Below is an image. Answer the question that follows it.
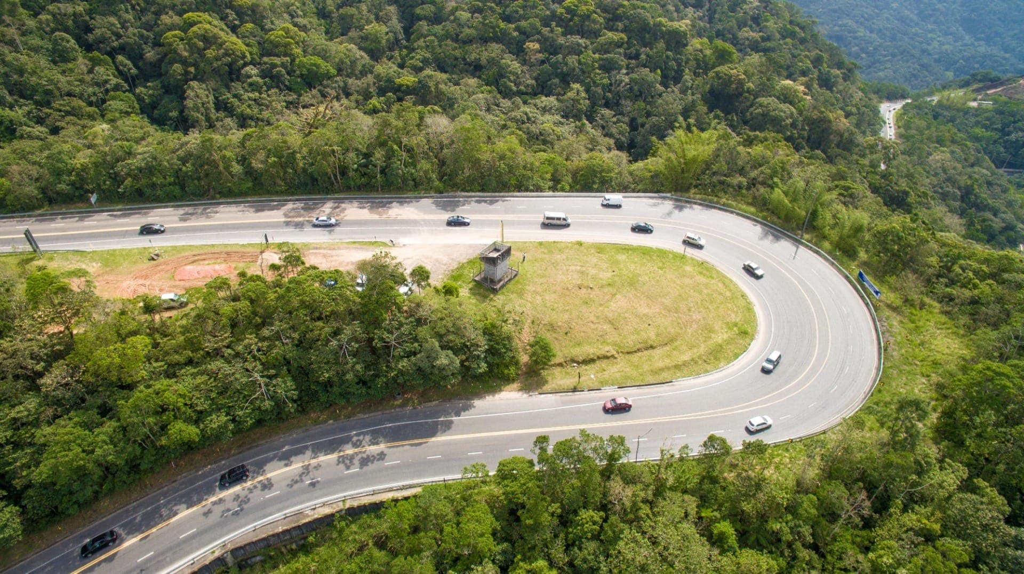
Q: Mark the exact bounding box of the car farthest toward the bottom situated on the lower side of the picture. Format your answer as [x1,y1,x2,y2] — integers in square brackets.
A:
[79,531,117,558]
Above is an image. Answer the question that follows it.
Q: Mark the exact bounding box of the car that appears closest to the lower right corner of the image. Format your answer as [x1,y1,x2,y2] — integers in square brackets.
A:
[746,416,774,432]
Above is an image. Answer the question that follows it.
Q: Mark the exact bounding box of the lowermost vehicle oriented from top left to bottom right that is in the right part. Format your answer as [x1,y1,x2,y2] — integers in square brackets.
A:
[743,261,764,277]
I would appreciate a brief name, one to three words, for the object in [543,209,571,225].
vehicle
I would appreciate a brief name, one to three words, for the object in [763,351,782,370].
car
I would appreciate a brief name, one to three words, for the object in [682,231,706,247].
car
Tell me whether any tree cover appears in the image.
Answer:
Yes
